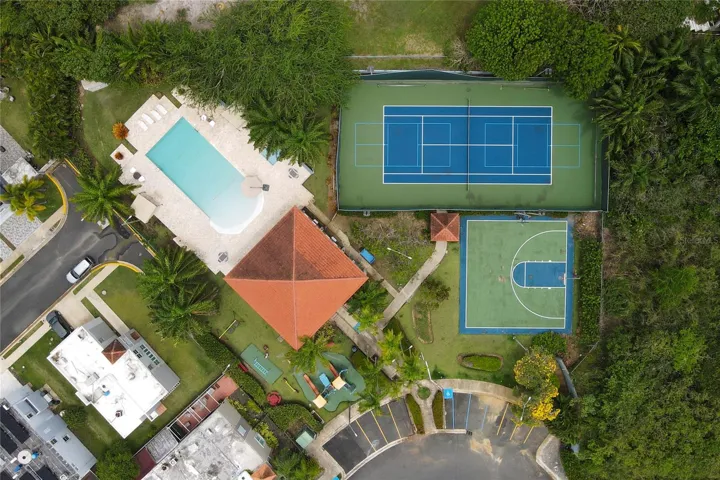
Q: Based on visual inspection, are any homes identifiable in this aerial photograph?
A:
Yes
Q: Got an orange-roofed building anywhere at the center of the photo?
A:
Yes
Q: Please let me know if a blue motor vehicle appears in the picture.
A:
No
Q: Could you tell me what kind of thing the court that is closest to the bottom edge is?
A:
basketball court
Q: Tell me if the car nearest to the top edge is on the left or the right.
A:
left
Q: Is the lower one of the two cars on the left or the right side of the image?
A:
left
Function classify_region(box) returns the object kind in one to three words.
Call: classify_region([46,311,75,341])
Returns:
car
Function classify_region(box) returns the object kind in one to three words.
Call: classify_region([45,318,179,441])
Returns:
house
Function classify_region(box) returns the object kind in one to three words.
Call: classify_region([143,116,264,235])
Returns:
swimming pool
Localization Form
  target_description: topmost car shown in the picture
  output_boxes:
[67,256,94,283]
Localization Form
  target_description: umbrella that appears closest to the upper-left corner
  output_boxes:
[242,177,269,196]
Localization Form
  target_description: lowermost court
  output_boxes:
[460,216,574,335]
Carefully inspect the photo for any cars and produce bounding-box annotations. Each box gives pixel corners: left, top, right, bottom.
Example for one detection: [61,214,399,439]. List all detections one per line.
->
[67,256,94,283]
[46,311,75,341]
